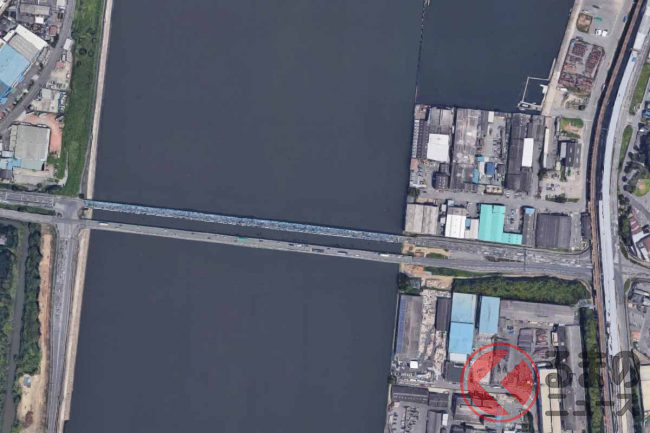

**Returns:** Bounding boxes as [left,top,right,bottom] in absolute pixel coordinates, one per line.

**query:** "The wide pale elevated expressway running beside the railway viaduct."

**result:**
[600,0,650,433]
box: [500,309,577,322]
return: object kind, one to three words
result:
shed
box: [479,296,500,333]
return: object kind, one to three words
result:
building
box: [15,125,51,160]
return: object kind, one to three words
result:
building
